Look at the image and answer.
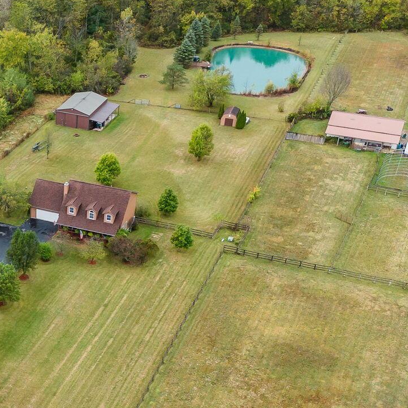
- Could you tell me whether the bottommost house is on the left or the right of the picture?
left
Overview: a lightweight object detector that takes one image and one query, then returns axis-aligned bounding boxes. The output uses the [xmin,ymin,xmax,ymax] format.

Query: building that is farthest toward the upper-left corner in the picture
[56,90,117,134]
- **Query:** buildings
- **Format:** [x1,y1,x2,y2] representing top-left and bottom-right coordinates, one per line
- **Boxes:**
[56,90,117,134]
[33,180,149,247]
[220,108,238,127]
[327,109,403,153]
